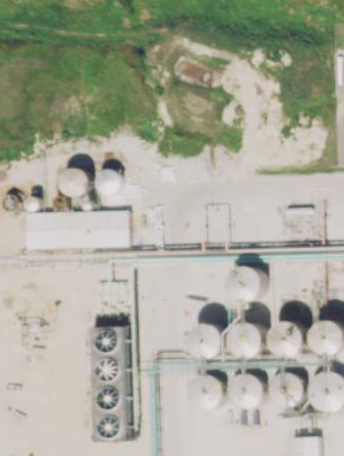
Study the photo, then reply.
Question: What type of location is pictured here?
industrial area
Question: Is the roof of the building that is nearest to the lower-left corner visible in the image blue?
No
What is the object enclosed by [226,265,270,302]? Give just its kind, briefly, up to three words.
storage tank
